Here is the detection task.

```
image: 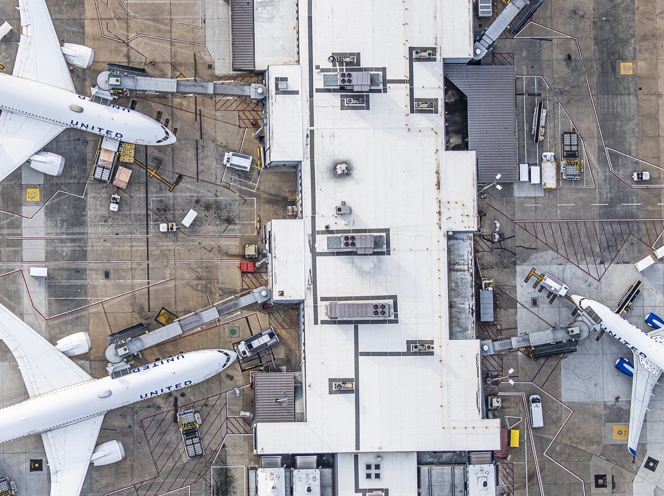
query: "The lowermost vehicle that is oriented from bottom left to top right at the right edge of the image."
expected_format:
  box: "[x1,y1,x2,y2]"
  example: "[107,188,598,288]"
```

[614,276,643,316]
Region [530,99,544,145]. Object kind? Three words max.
work vehicle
